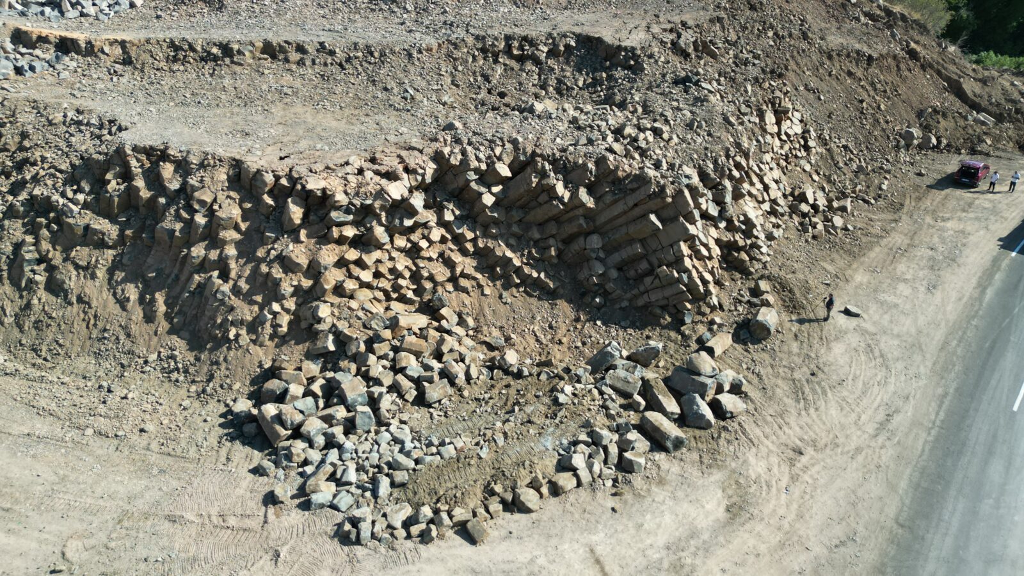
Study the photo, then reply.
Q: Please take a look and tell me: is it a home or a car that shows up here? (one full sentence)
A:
There is a car in the scene.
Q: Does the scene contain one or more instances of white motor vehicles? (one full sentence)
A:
No, no white motor vehicle is visible in the view.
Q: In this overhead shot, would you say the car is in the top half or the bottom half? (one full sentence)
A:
The car sits in the top half of the picture.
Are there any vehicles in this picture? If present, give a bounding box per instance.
[955,161,995,187]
